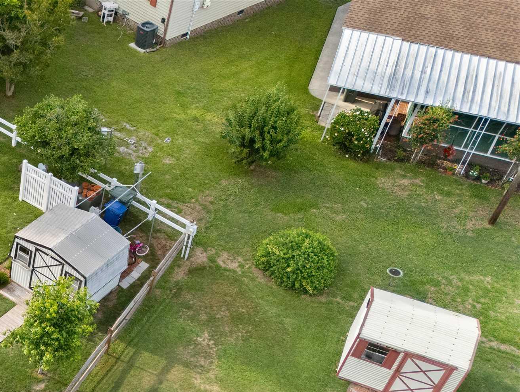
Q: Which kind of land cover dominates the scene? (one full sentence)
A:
The bulk of the photo consists of grass.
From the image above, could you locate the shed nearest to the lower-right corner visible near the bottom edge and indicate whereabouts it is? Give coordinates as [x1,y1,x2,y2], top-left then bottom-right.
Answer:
[336,281,488,392]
